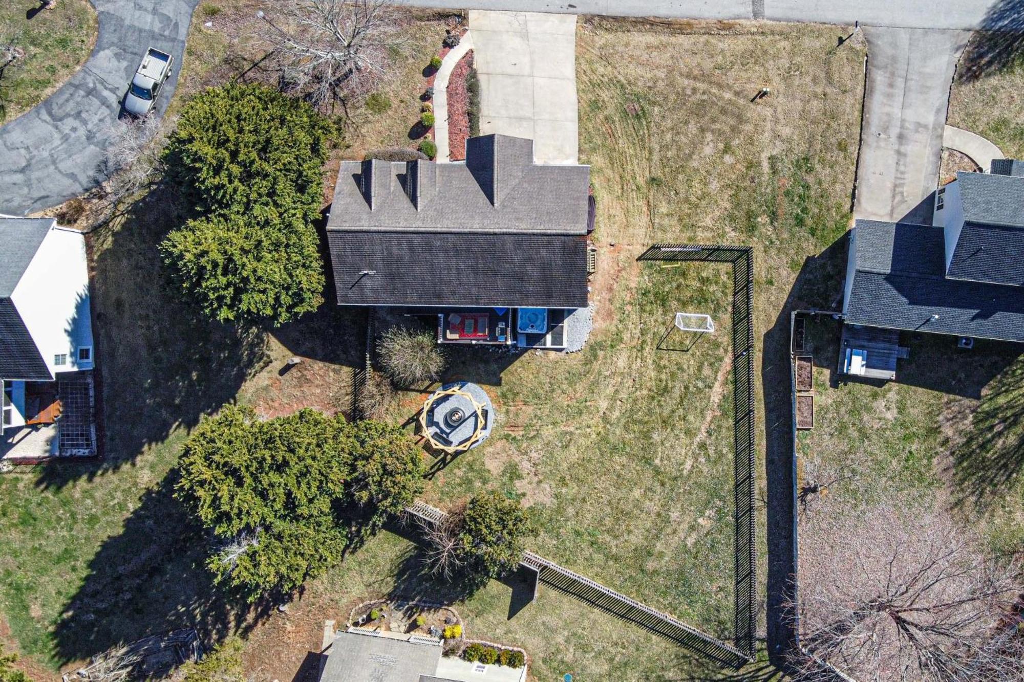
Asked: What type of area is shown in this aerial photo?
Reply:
residential area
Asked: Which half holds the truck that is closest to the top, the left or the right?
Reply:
left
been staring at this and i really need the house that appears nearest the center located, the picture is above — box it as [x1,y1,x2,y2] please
[327,133,590,308]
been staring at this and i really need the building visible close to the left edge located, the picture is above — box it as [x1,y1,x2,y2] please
[0,215,94,435]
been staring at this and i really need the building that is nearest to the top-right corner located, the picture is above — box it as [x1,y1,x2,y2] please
[842,159,1024,342]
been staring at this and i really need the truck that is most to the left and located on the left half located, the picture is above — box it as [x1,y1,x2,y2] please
[125,46,176,122]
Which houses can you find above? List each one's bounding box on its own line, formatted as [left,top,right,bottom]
[327,133,590,308]
[842,159,1024,342]
[324,616,527,682]
[0,215,94,435]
